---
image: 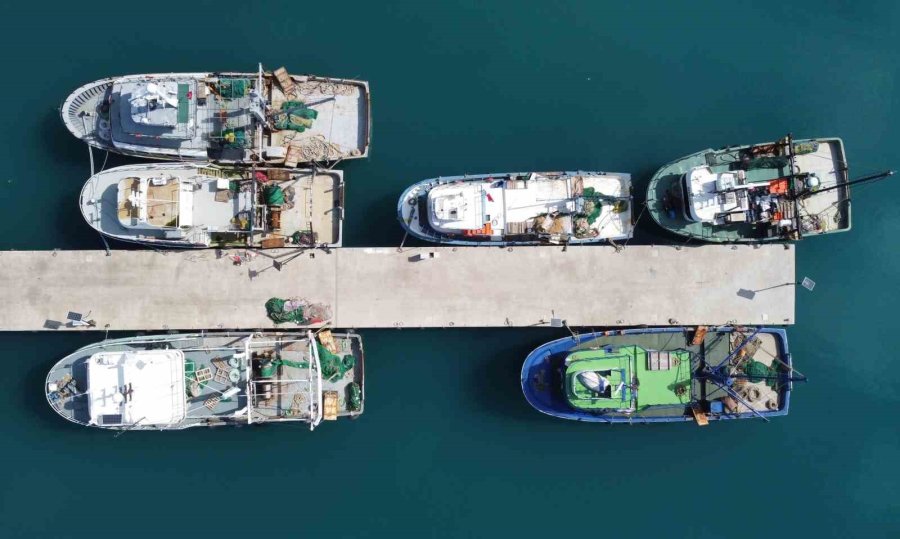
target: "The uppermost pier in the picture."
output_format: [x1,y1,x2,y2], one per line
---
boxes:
[0,245,795,331]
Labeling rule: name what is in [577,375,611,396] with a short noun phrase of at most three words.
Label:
boat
